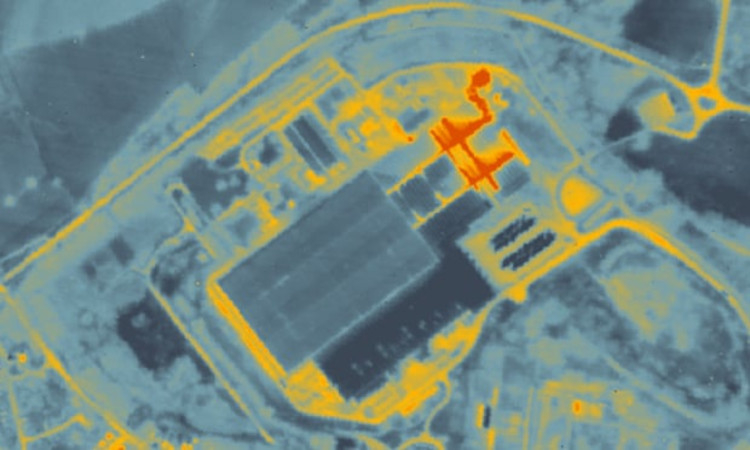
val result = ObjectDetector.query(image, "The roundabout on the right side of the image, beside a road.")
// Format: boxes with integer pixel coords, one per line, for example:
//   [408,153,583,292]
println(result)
[690,79,730,117]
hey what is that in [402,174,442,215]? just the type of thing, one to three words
building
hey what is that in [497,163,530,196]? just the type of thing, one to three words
shed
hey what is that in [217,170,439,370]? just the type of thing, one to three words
building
